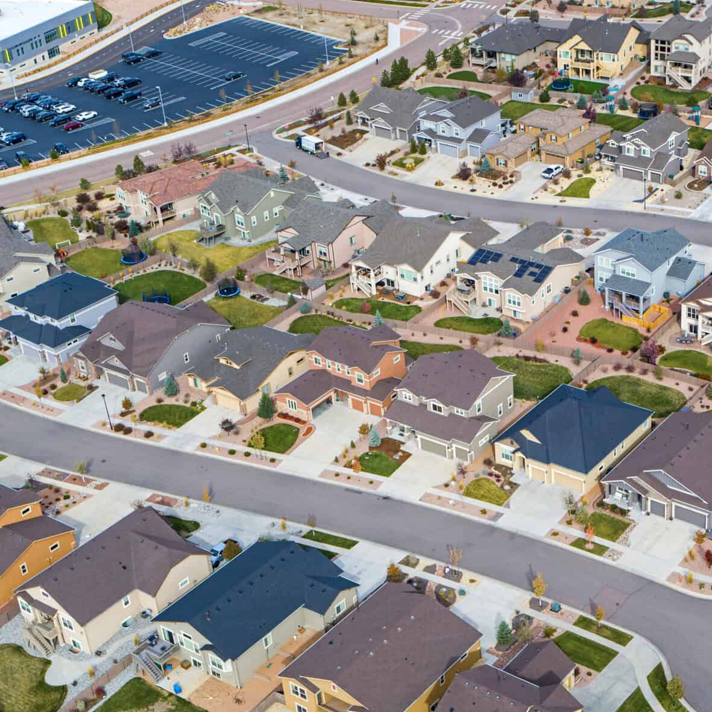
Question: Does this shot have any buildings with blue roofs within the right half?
Yes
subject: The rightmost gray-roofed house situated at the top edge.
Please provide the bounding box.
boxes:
[650,16,712,88]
